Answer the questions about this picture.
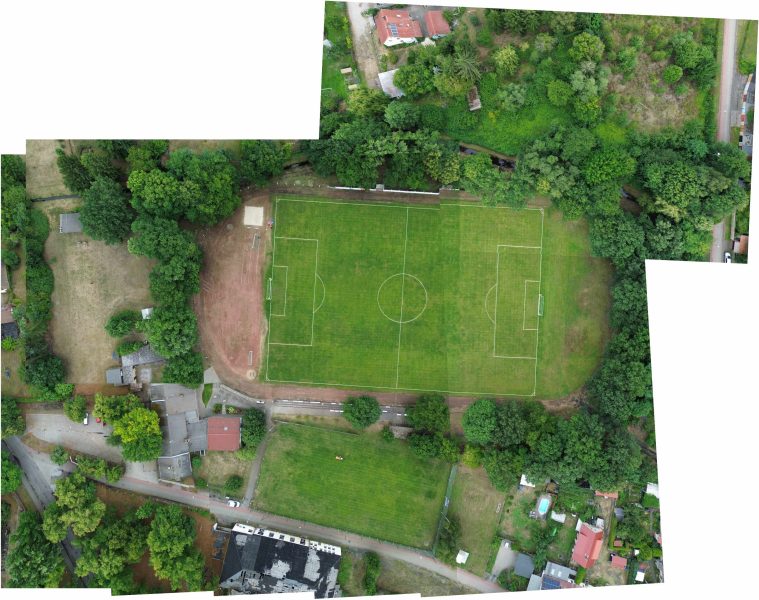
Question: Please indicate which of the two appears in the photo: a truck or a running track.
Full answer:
It is a running track that can be seen here.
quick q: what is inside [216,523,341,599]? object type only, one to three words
building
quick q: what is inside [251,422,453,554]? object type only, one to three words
sports field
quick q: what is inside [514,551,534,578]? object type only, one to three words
building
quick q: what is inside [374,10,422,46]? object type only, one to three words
house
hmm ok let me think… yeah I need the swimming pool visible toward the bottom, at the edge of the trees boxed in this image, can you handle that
[537,495,551,520]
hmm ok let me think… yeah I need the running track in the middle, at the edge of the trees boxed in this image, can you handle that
[196,188,614,407]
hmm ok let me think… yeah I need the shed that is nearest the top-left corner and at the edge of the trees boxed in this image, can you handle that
[60,213,85,233]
